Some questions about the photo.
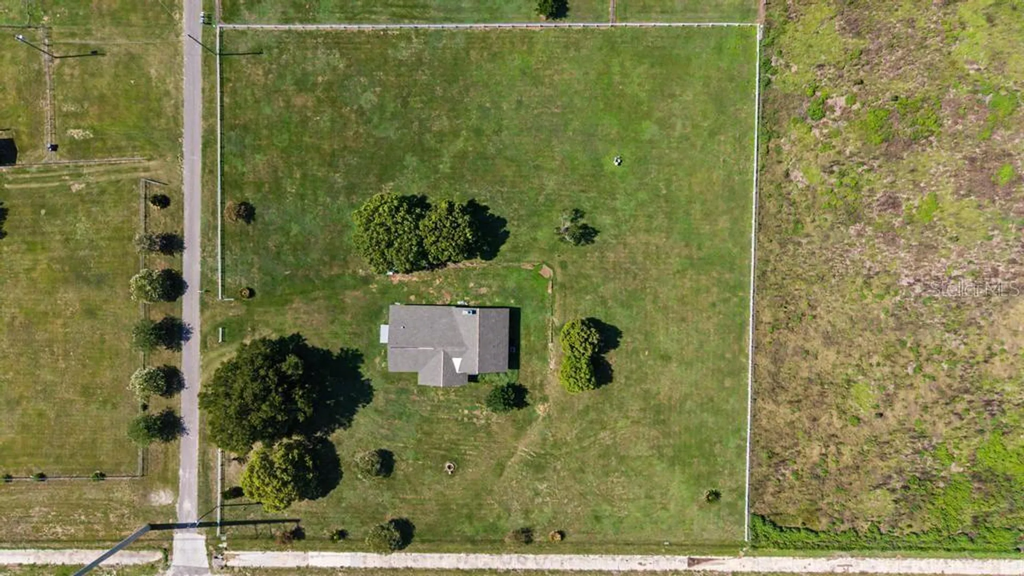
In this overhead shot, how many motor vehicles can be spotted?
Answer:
0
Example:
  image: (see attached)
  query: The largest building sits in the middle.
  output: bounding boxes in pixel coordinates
[380,304,509,387]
